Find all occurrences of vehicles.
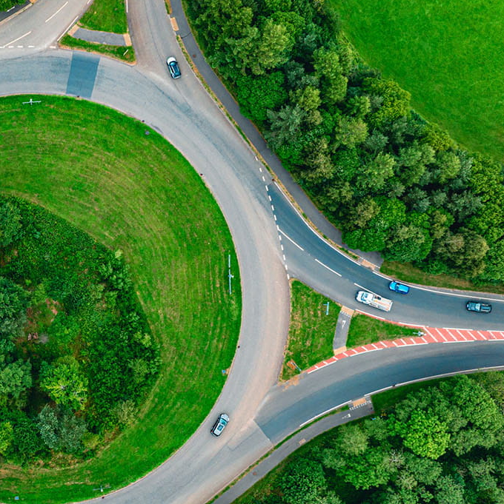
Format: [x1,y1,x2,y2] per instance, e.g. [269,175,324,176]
[465,301,492,313]
[166,57,181,80]
[387,281,410,295]
[211,412,229,438]
[354,290,393,312]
